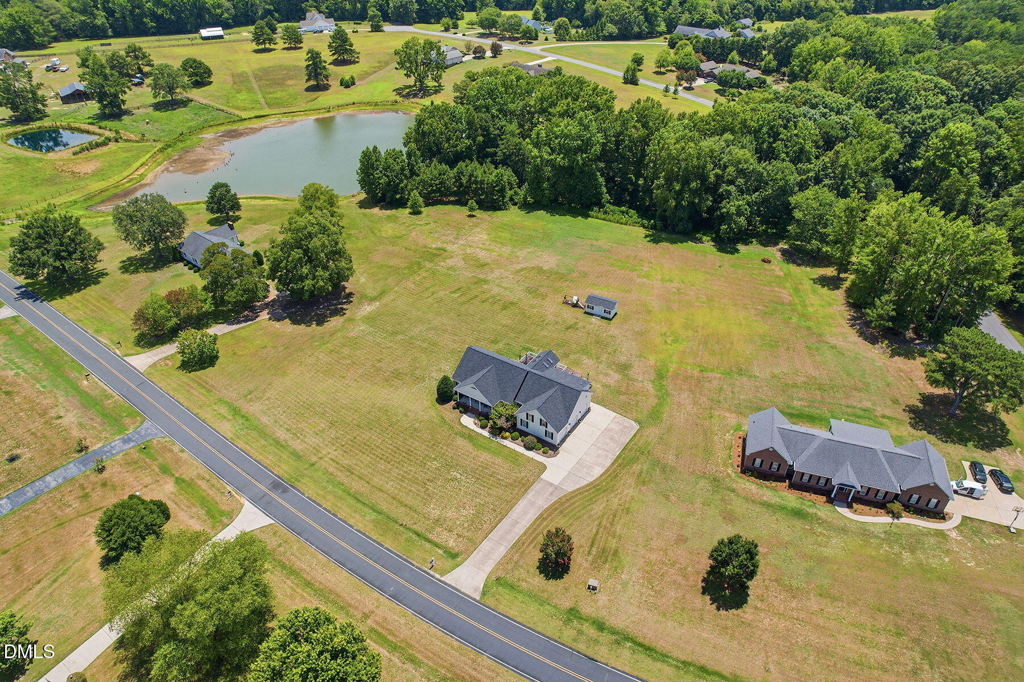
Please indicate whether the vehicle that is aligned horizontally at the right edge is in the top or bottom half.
bottom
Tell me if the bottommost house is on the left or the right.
right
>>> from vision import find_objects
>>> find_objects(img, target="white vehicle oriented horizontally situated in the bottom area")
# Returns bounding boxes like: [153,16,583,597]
[953,474,999,496]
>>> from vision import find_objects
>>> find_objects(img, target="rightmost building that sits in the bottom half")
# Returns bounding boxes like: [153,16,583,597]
[745,407,955,512]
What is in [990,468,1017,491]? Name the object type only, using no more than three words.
car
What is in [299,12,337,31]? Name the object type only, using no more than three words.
house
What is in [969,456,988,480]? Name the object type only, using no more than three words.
car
